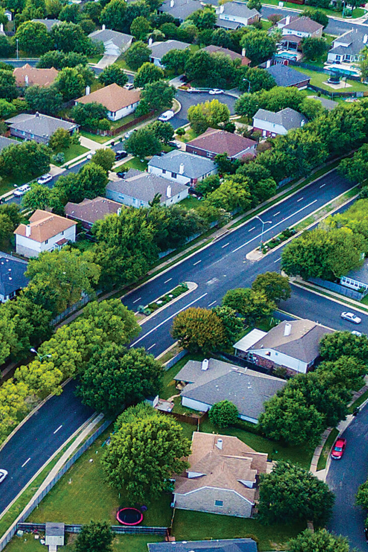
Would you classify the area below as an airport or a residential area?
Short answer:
residential area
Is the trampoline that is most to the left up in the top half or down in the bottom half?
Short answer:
bottom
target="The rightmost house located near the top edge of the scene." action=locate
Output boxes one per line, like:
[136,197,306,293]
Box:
[330,26,368,63]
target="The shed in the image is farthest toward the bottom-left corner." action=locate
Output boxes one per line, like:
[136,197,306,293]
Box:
[42,525,67,552]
